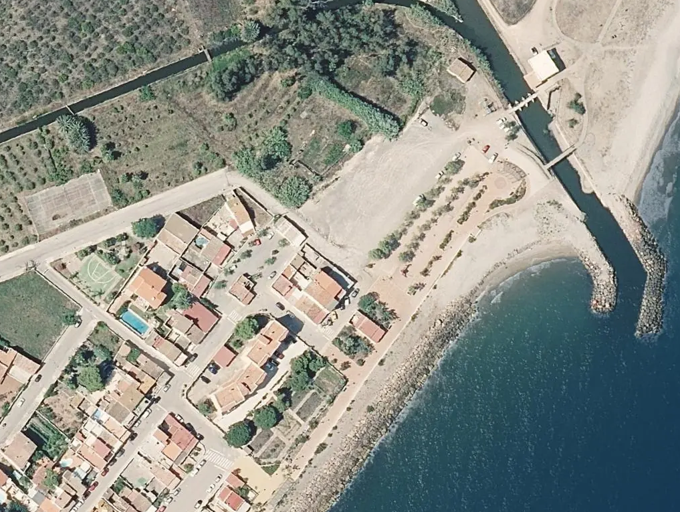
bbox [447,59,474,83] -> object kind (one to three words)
house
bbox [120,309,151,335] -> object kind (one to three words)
swimming pool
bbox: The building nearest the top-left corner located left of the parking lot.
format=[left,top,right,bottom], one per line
[157,213,200,254]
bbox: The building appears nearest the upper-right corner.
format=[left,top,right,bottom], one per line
[523,50,559,89]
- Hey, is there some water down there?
Yes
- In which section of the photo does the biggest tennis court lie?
left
